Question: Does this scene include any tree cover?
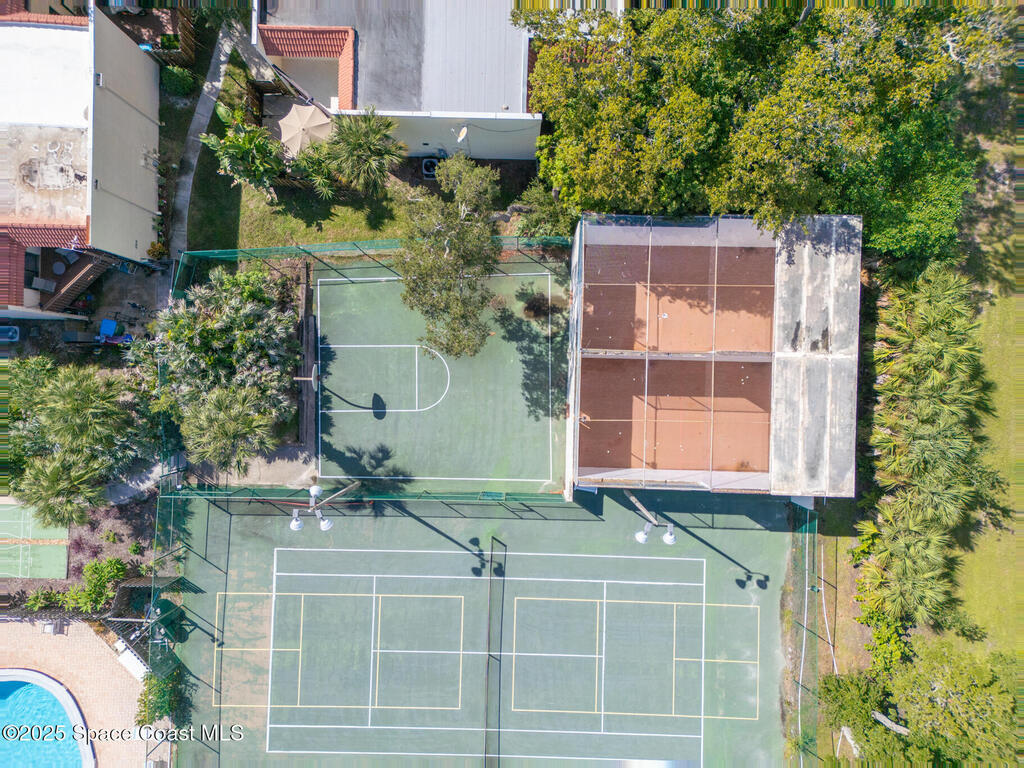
Yes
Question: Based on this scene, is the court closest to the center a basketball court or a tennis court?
basketball court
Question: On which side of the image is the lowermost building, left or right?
right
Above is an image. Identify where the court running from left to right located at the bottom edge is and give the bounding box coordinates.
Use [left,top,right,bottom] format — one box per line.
[181,480,789,768]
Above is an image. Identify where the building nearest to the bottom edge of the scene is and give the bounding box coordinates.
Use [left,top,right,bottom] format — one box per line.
[565,209,862,509]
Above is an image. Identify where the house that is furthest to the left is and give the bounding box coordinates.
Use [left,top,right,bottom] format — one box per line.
[0,0,162,325]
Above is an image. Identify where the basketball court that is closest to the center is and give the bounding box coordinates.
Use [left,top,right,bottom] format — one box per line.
[313,256,570,492]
